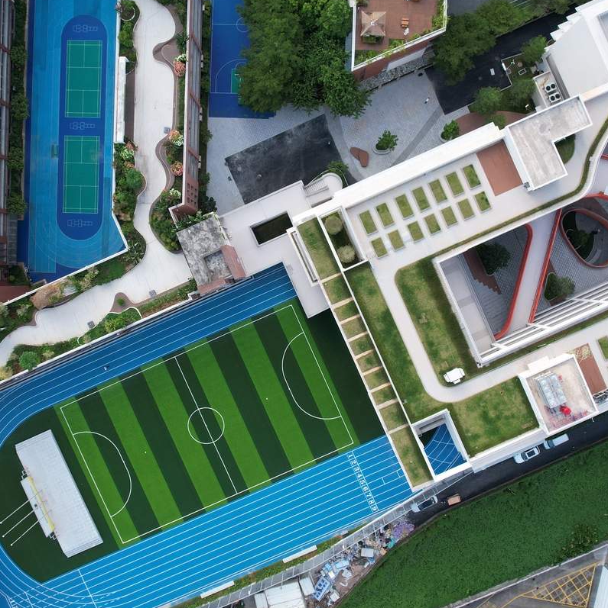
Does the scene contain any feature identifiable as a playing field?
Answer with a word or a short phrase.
Yes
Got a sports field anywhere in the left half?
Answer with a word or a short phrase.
Yes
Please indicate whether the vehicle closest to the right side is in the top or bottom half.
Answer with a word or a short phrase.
bottom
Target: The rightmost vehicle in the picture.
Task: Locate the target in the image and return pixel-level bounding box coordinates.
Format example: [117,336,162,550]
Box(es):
[540,431,573,452]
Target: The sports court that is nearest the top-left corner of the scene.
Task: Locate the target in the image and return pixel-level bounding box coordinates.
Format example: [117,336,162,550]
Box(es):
[65,40,102,116]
